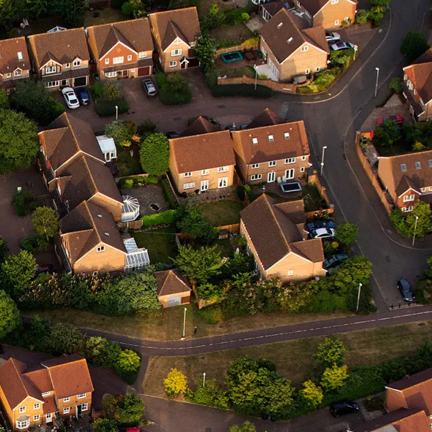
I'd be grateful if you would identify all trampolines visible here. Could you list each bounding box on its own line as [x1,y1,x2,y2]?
[221,50,244,63]
[280,181,302,194]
